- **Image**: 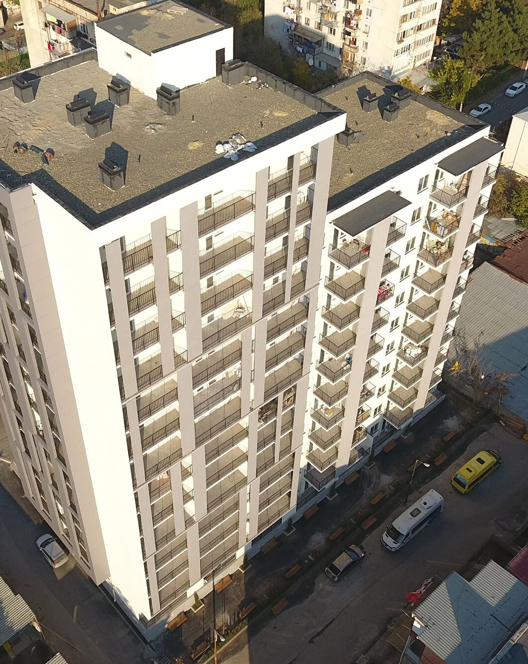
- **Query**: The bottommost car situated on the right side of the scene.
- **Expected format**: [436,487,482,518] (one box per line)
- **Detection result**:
[318,543,366,586]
